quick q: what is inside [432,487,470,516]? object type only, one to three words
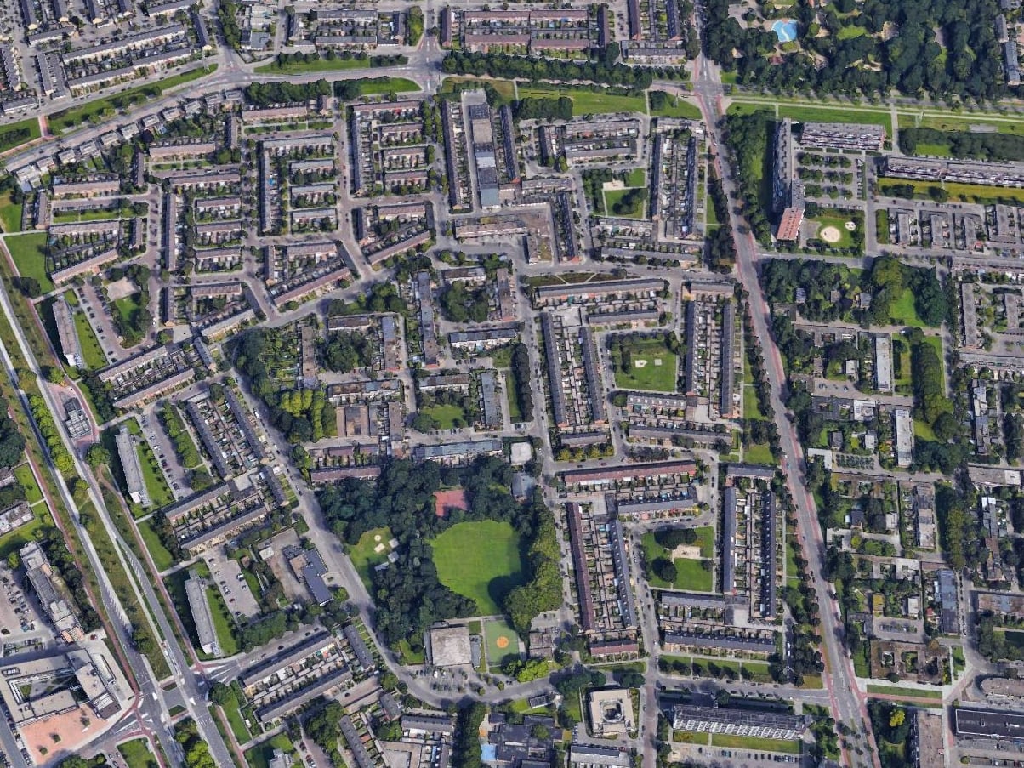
sports court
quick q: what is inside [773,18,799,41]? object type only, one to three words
swimming pool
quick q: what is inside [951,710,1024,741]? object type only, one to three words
building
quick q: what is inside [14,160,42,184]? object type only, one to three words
house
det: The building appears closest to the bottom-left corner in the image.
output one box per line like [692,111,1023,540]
[0,649,124,725]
